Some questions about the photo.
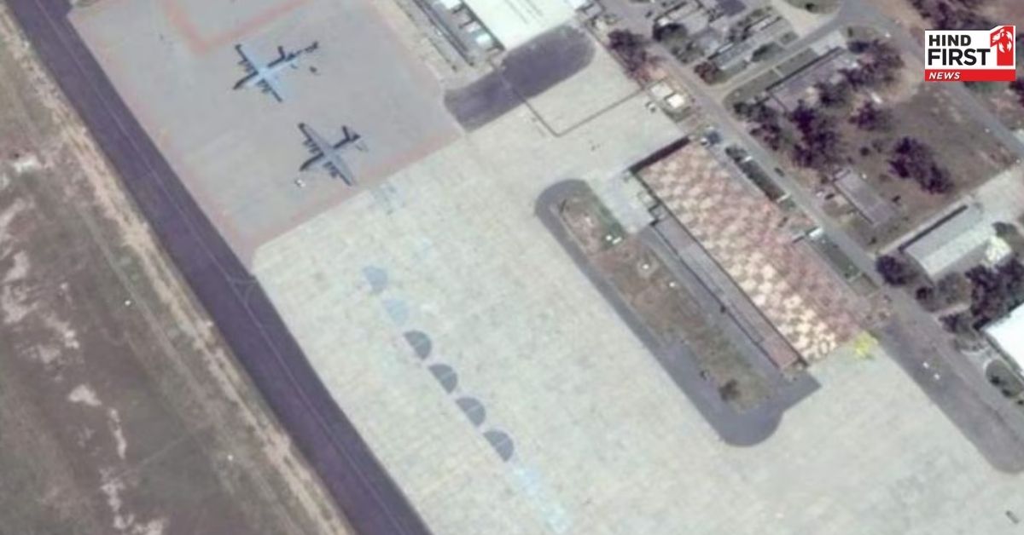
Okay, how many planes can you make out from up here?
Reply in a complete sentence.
Altogether the scene contains 2 planes.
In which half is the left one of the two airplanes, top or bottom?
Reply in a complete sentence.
It is in the top half that the left one of the two airplanes appears.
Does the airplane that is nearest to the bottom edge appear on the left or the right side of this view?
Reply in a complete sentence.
The airplane that is nearest to the bottom edge is on the left side of the image.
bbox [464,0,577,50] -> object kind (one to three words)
hangar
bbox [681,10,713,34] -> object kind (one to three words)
house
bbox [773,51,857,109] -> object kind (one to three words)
building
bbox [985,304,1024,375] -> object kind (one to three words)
building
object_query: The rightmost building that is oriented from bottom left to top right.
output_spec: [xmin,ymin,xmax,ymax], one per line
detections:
[907,204,1001,274]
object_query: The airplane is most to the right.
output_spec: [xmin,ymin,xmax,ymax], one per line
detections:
[309,121,369,187]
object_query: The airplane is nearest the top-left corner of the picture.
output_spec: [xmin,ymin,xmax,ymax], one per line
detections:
[242,40,301,105]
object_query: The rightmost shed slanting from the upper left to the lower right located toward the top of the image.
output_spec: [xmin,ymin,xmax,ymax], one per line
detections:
[840,171,893,223]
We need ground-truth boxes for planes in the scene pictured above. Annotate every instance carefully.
[242,40,301,105]
[309,121,369,187]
